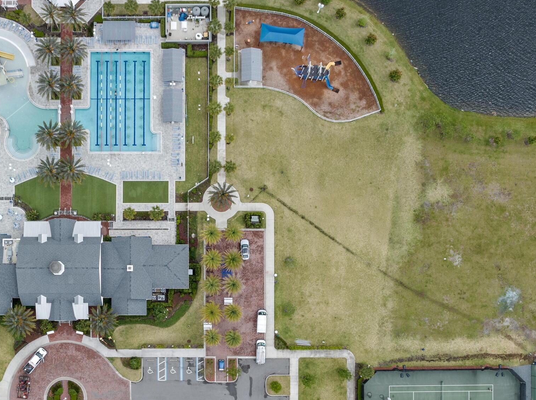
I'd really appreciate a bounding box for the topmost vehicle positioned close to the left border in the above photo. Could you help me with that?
[25,348,45,373]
